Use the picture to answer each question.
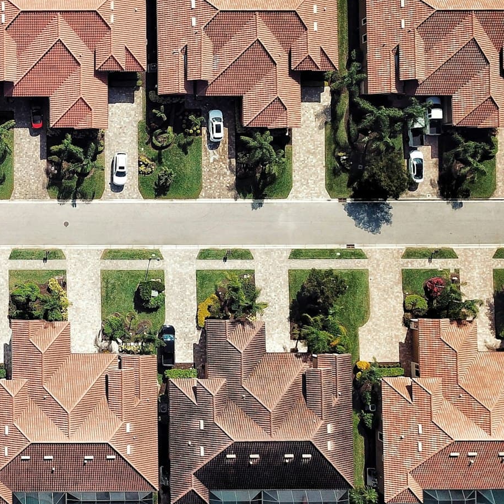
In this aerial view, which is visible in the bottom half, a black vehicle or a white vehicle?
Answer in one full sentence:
Looking in the bottom half, you will find a black vehicle.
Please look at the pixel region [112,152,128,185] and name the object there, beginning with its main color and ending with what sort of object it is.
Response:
white car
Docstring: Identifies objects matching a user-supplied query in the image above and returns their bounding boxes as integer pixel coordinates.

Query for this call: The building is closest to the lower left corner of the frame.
[0,319,159,504]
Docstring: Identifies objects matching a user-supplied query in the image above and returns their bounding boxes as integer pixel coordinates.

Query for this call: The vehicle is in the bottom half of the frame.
[160,323,177,366]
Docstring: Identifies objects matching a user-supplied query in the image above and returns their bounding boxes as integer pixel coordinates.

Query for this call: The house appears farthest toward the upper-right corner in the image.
[359,0,504,128]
